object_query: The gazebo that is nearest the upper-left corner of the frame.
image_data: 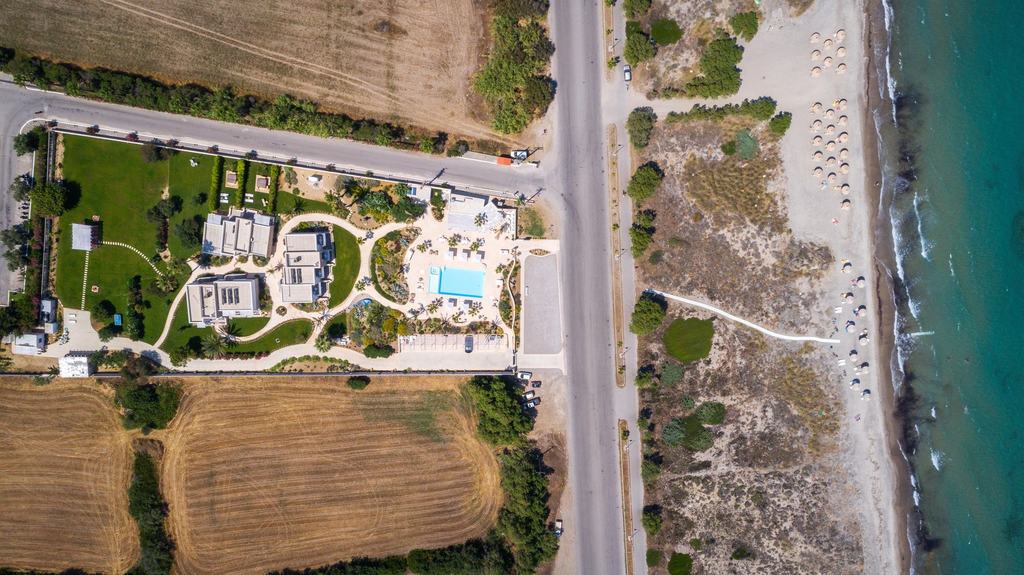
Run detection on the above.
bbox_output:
[71,222,98,250]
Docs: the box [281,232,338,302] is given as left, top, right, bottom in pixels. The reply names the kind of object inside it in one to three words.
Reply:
house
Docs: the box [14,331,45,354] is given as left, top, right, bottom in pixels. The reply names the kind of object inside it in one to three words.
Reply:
house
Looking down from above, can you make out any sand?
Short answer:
Yes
